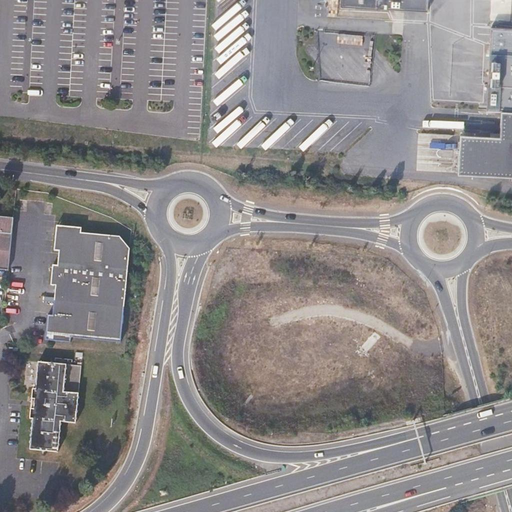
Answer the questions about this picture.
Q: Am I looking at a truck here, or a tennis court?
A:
truck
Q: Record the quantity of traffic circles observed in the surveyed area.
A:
2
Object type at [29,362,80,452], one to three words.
building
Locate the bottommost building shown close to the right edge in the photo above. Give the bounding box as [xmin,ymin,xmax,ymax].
[457,112,512,182]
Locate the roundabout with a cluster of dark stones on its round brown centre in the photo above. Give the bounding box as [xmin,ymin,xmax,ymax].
[128,170,256,256]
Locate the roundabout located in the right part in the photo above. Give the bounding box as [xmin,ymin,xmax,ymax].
[384,192,497,284]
